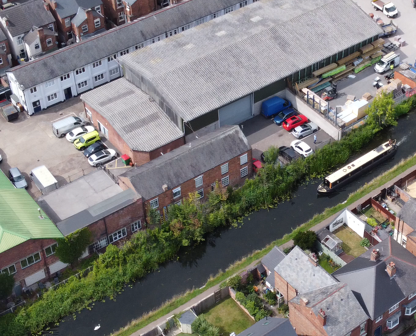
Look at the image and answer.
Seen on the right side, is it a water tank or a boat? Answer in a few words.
boat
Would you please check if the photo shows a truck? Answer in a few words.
Yes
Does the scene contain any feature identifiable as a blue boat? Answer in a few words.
No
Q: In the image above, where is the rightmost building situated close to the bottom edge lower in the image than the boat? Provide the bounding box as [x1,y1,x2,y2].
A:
[339,234,416,336]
